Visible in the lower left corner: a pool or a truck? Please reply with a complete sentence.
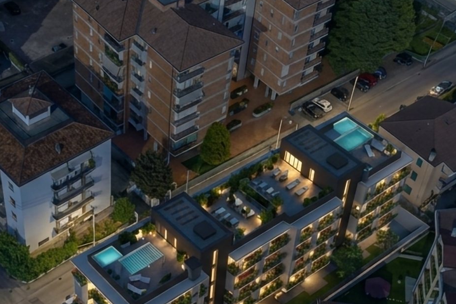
Looking in the lower left corner, you will find a pool.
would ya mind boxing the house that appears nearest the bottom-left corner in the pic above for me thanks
[0,71,115,247]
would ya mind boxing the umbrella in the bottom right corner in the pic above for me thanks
[363,278,389,299]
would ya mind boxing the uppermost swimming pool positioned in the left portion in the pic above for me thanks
[92,243,125,268]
